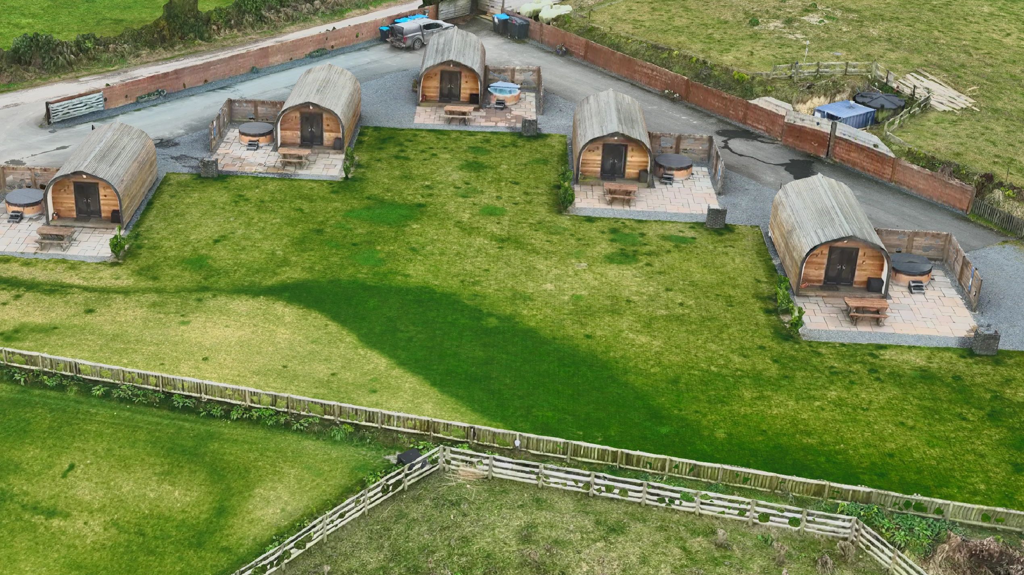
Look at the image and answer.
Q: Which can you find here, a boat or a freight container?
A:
freight container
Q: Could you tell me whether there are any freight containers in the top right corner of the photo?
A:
Yes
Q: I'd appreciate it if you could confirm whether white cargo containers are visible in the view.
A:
No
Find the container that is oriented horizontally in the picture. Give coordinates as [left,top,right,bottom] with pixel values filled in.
[816,100,874,130]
